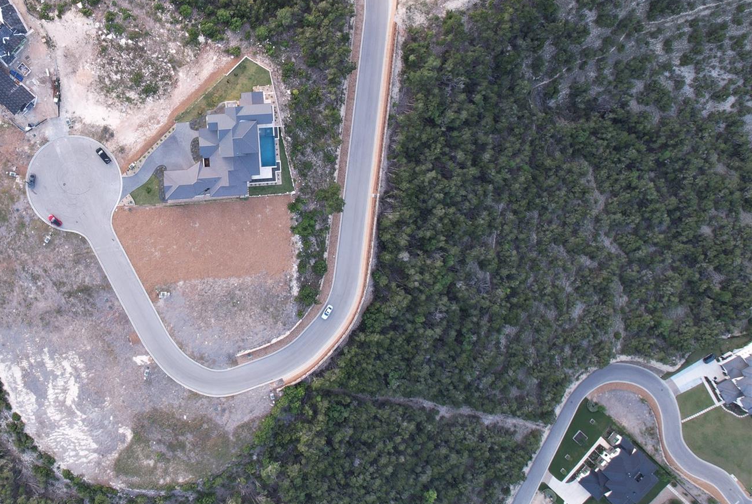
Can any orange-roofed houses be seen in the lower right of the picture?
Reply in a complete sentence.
No, no orange-roofed house can be made out in the lower right of the picture.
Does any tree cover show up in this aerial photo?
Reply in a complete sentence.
Yes, some tree cover is visible.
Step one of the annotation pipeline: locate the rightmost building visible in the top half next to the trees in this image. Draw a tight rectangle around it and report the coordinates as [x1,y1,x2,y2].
[164,91,273,199]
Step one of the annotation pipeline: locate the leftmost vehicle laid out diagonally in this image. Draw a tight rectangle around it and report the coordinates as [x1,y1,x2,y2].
[46,214,64,229]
